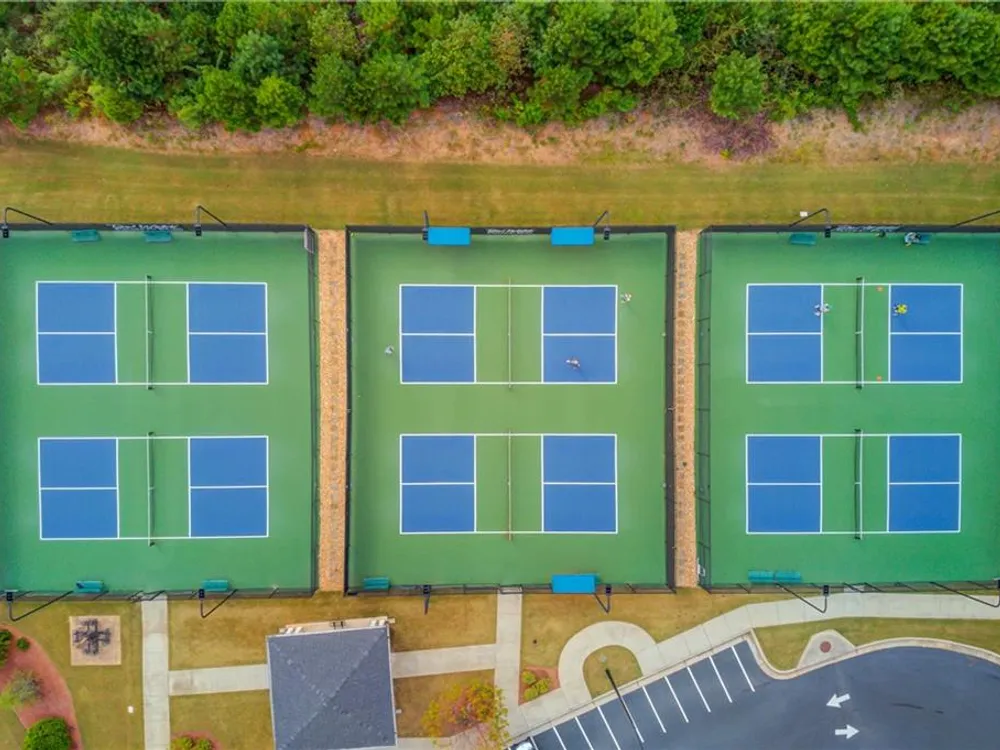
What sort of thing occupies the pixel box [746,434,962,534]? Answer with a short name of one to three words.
sports court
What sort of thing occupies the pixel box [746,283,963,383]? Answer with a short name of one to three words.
sports court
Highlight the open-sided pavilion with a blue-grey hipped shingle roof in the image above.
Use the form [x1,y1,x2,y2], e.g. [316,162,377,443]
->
[267,617,399,750]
